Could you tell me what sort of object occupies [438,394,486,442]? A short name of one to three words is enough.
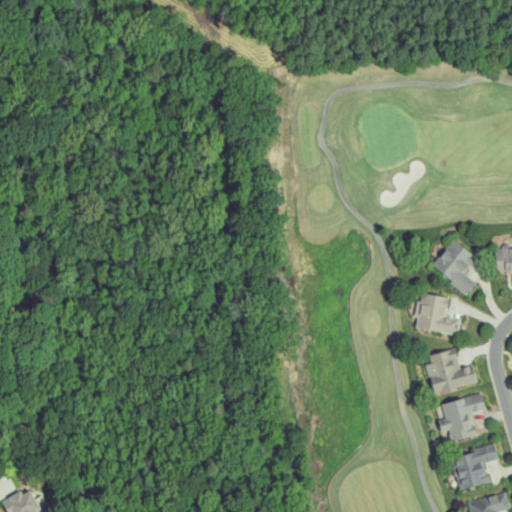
house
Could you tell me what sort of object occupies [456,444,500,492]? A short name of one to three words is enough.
house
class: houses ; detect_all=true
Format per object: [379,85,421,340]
[415,294,460,336]
[456,444,500,492]
[435,240,478,294]
[425,348,478,394]
[496,244,512,274]
[2,489,46,512]
[438,394,486,442]
[466,492,512,512]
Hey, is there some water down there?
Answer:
No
